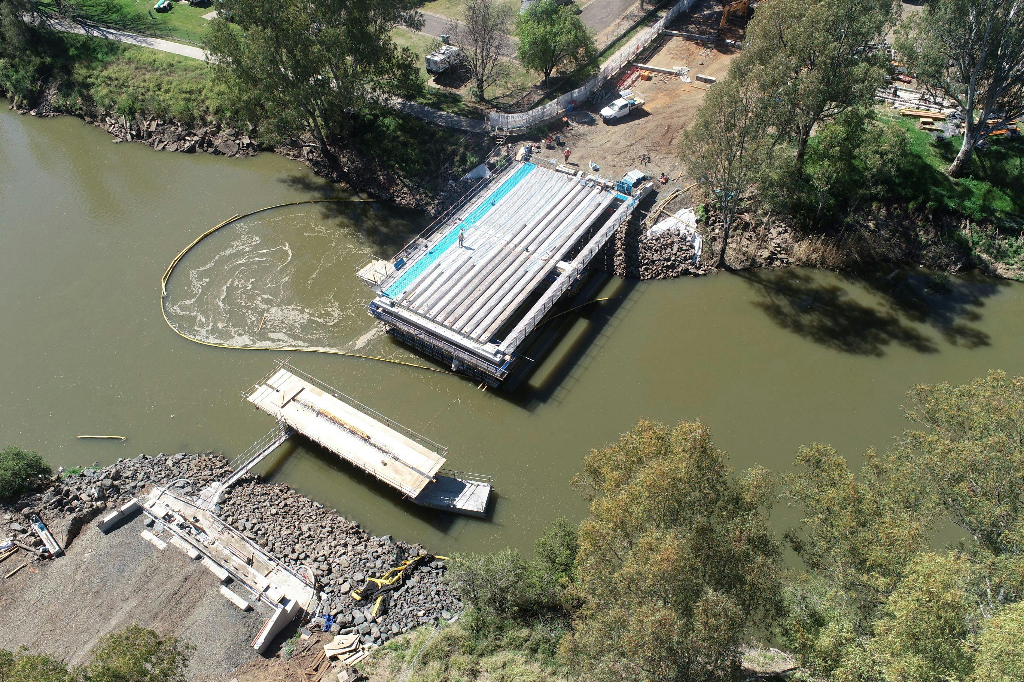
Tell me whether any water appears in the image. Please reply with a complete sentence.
Yes, water shows up in the scene.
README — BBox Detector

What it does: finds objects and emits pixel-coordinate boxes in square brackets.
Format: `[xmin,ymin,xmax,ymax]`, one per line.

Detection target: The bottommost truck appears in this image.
[601,84,656,121]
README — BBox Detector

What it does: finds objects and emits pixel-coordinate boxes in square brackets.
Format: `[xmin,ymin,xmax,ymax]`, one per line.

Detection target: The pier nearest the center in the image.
[406,453,502,520]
